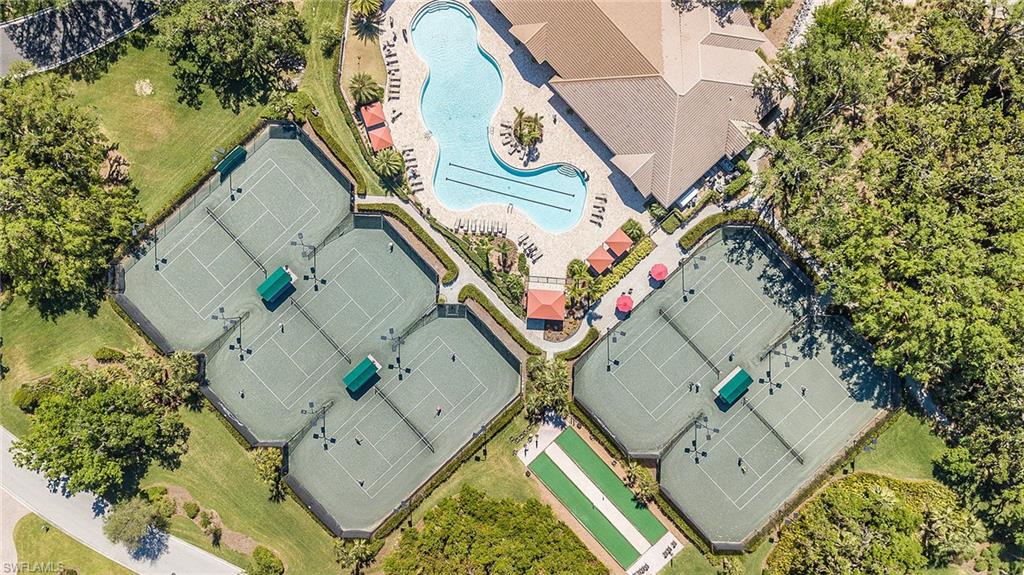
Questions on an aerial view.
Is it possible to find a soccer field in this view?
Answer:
No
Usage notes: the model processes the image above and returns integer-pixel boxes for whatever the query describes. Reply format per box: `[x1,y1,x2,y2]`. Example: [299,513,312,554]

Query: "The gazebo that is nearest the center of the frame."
[526,289,565,320]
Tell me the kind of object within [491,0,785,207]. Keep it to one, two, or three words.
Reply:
building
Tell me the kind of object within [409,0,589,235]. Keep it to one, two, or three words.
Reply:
swimming pool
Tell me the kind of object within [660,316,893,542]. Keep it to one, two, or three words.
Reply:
tennis court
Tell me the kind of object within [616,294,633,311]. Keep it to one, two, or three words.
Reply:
umbrella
